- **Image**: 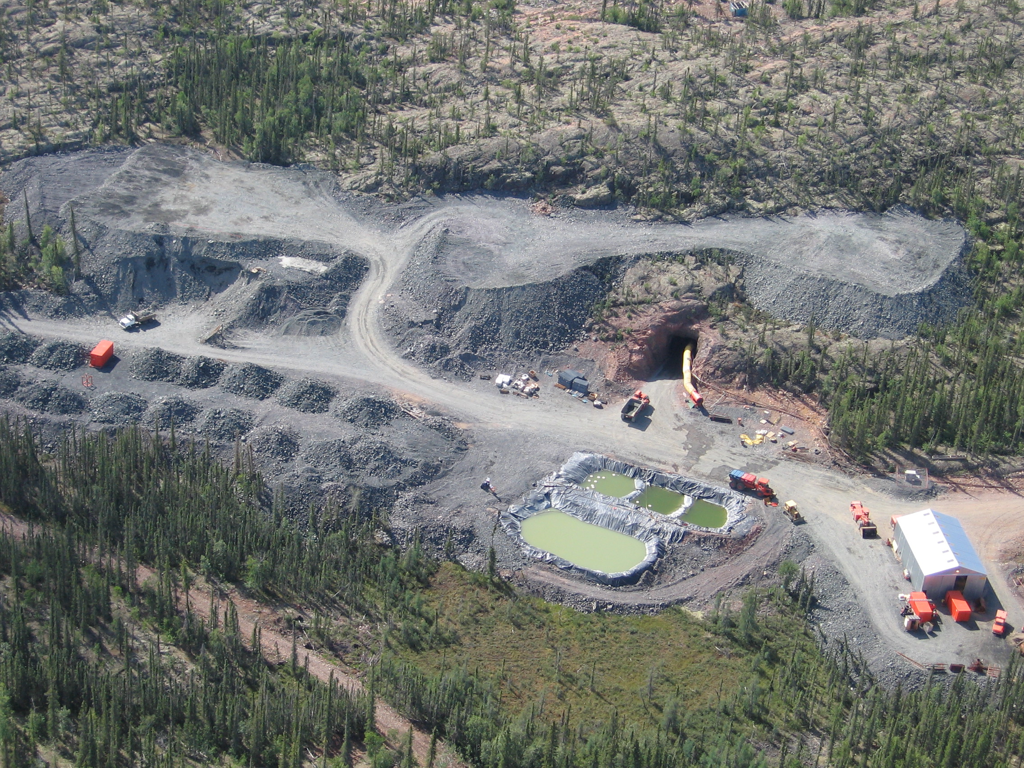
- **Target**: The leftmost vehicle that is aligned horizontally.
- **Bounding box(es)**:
[117,312,161,331]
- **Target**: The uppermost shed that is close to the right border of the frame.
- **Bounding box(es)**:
[898,506,990,592]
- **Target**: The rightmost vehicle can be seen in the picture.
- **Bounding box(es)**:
[993,609,1009,634]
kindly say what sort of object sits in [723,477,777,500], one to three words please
truck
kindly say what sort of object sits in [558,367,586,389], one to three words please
shed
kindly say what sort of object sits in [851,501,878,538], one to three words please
work vehicle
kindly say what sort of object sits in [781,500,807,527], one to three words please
work vehicle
